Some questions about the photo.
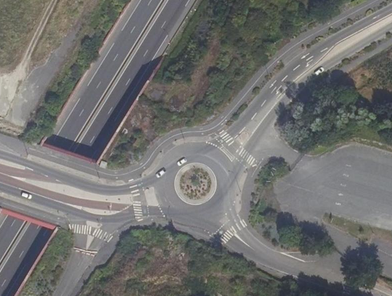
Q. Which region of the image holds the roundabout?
center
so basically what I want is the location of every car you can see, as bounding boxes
[156,168,166,177]
[21,192,32,199]
[314,66,324,74]
[176,156,188,166]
